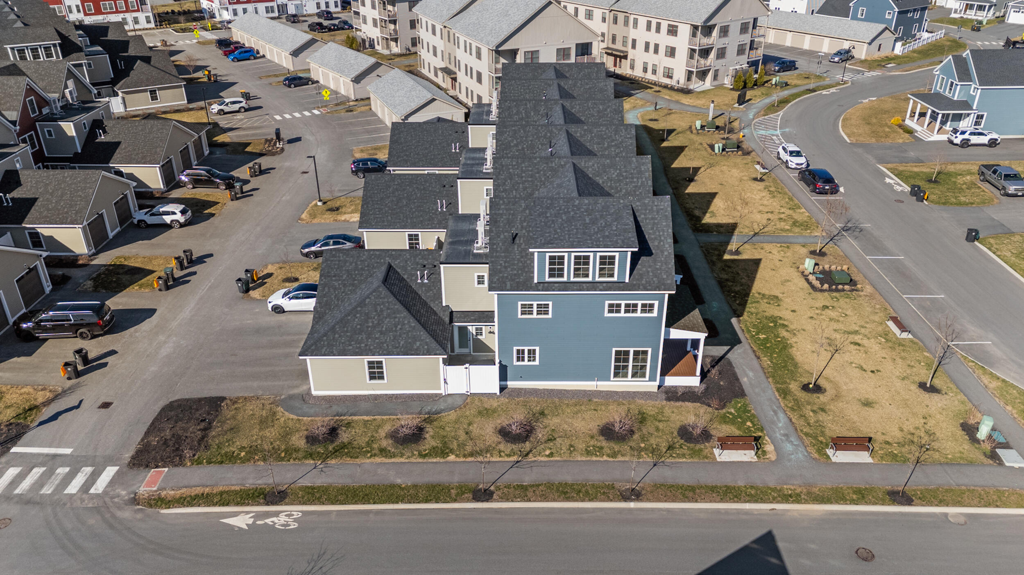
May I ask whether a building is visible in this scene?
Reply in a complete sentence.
Yes, you can see a building in this photo.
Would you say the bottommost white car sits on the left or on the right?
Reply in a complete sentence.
The bottommost white car sits on the left side.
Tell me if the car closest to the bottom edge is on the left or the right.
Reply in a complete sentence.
The car closest to the bottom edge sits on the left side.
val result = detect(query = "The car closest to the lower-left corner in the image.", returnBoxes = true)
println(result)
[7,298,121,343]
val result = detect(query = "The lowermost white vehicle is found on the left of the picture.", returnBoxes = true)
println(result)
[261,279,320,314]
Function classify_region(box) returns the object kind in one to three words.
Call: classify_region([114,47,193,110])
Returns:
building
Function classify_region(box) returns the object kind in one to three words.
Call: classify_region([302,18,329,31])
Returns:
vehicle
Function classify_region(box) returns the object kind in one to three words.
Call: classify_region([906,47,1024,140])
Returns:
house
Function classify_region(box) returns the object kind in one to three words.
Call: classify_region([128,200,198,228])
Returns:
car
